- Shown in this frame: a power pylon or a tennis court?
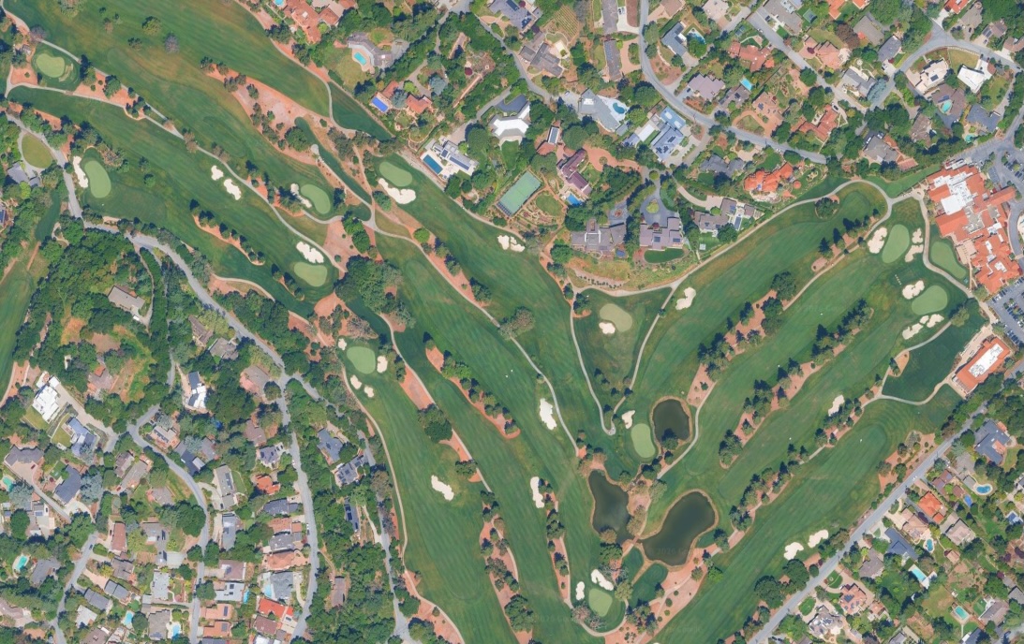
tennis court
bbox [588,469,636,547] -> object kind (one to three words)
pond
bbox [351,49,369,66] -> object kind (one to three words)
swimming pool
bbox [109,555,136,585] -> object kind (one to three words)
house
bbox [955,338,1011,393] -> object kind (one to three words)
building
